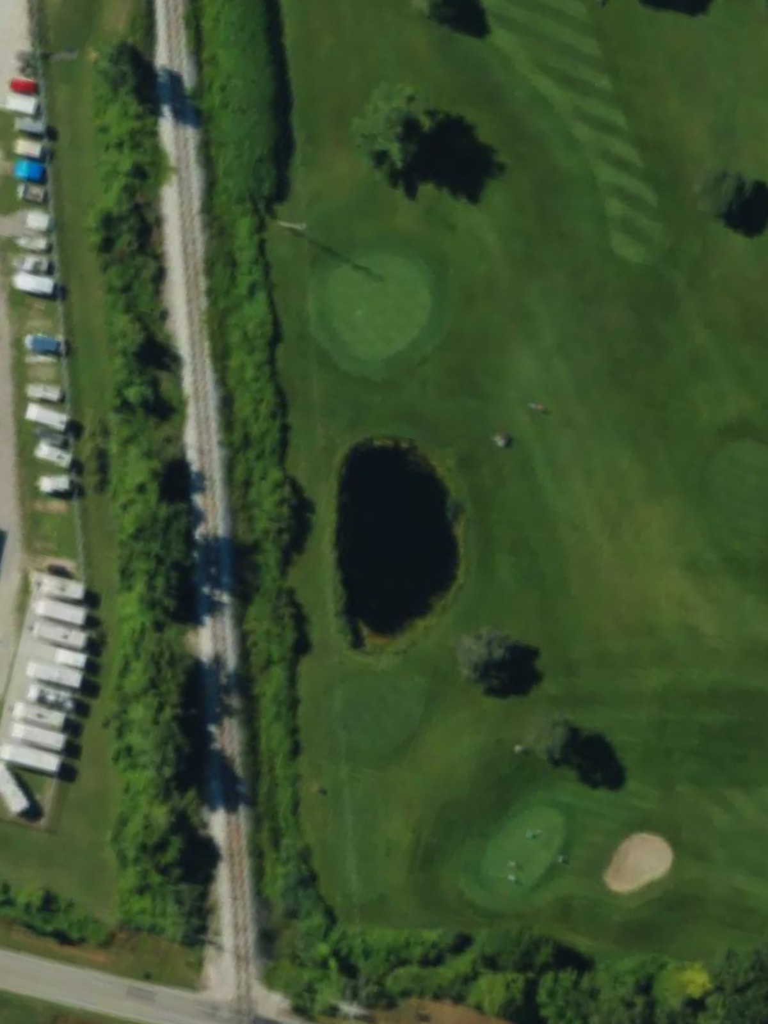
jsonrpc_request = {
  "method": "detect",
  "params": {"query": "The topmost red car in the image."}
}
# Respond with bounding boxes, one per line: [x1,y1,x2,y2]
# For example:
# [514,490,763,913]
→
[10,79,37,93]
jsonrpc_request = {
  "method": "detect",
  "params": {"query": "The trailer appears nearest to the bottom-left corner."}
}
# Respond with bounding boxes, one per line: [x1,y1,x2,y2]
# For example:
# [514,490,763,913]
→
[0,763,33,817]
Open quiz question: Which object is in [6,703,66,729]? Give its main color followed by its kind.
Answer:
white trailer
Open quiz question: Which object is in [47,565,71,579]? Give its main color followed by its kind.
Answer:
black car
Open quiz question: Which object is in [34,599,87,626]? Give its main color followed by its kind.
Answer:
white trailer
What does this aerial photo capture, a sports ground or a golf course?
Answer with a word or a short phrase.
golf course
